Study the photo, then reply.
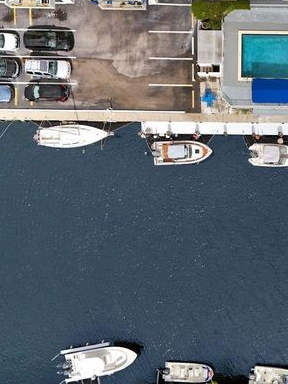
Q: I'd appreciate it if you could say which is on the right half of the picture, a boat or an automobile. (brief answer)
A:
boat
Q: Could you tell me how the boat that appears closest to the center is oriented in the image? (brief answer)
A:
horizontally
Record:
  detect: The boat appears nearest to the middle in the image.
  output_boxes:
[150,139,212,166]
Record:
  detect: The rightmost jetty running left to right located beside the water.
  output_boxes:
[254,124,282,136]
